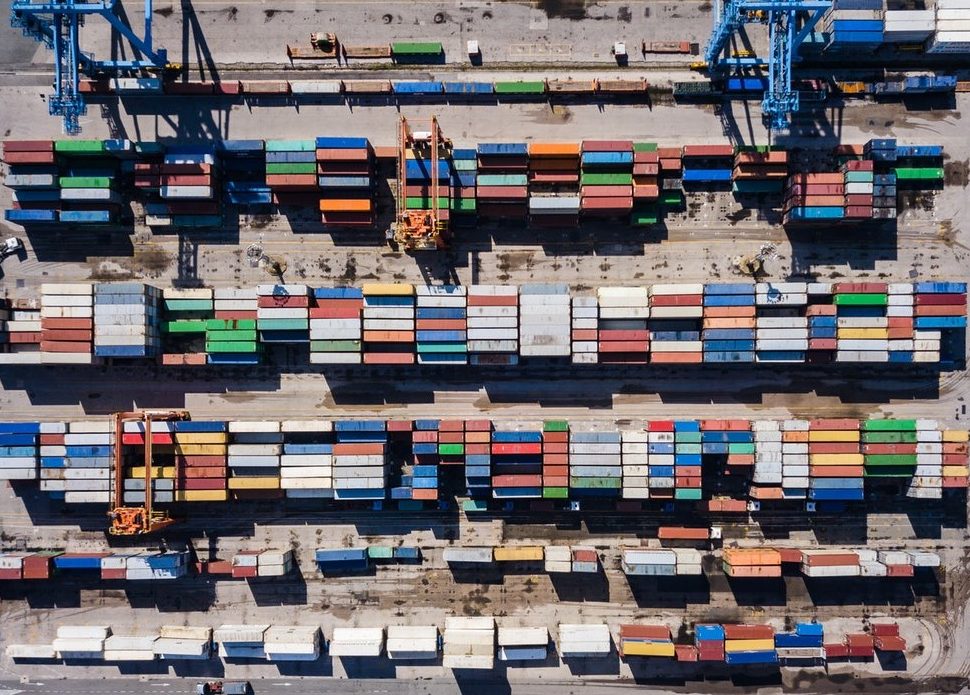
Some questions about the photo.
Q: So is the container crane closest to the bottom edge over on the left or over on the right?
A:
left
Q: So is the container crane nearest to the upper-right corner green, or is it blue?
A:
blue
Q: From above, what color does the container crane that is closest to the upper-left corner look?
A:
blue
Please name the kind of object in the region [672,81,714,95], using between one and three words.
rail car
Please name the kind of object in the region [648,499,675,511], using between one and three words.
vehicle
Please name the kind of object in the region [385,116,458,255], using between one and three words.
container crane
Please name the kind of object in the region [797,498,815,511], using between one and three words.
vehicle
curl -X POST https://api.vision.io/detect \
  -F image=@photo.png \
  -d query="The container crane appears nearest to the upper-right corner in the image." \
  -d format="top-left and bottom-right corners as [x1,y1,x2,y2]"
[690,0,835,138]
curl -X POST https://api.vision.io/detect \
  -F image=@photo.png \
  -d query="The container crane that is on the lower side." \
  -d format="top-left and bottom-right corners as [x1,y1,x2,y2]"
[101,409,190,544]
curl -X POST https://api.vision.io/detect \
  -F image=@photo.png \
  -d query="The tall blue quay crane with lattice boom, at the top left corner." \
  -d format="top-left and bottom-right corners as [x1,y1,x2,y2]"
[0,0,180,138]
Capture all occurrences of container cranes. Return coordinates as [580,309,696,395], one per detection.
[385,116,458,255]
[690,0,835,138]
[0,0,180,138]
[101,409,190,544]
